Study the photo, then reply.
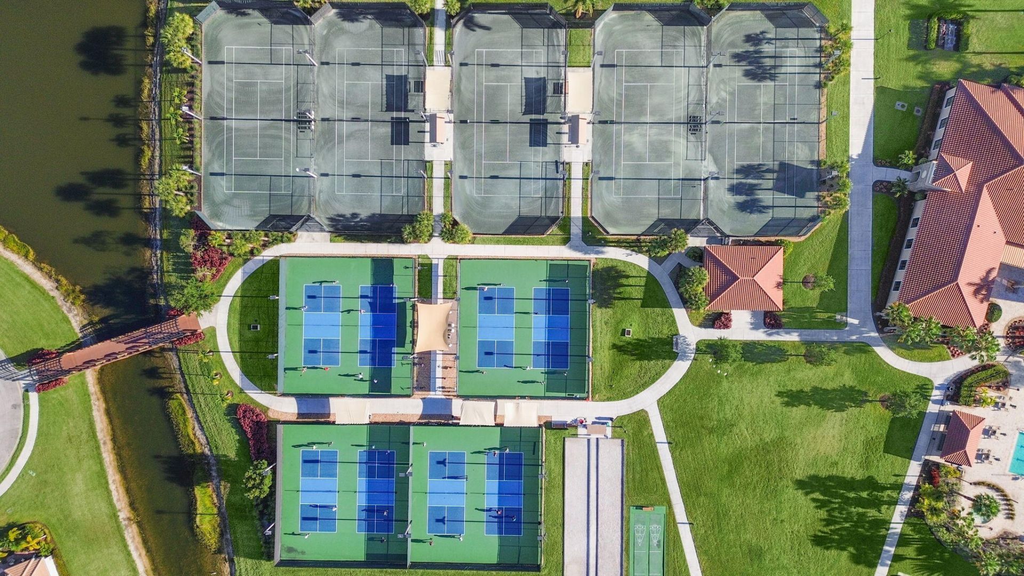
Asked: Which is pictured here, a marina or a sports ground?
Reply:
sports ground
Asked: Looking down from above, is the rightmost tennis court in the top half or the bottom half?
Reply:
top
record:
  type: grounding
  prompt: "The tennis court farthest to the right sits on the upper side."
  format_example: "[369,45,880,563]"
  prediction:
[705,11,822,234]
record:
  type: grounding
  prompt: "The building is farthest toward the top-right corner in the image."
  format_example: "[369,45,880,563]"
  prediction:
[889,79,1024,328]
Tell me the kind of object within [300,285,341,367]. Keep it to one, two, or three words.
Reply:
sports court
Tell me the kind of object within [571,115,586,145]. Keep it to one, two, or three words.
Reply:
shed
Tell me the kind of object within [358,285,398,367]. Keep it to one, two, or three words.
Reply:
sports court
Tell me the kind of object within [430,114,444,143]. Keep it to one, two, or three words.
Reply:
shed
